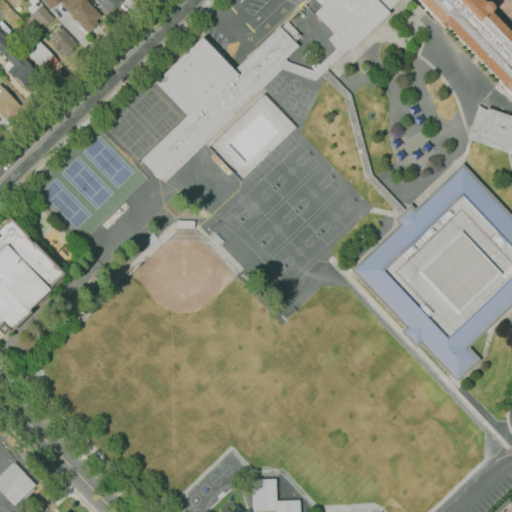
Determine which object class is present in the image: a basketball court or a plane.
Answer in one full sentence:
The one in the frame is a basketball court.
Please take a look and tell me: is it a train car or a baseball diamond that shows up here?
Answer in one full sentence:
The one in the frame is a baseball diamond.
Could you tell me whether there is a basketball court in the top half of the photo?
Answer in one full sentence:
Yes, a basketball court shows up in the top half of the photo.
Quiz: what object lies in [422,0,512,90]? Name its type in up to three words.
building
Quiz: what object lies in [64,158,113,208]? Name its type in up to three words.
tennis court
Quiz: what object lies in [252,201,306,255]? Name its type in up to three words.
basketball court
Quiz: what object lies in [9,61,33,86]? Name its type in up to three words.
house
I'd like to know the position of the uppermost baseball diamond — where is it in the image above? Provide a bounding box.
[128,226,244,314]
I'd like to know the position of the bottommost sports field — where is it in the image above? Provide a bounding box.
[33,272,485,512]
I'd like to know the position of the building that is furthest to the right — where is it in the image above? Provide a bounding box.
[472,100,512,153]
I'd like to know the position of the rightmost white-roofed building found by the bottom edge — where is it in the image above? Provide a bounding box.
[252,479,301,512]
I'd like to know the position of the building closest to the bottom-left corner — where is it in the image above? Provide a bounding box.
[0,462,36,507]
